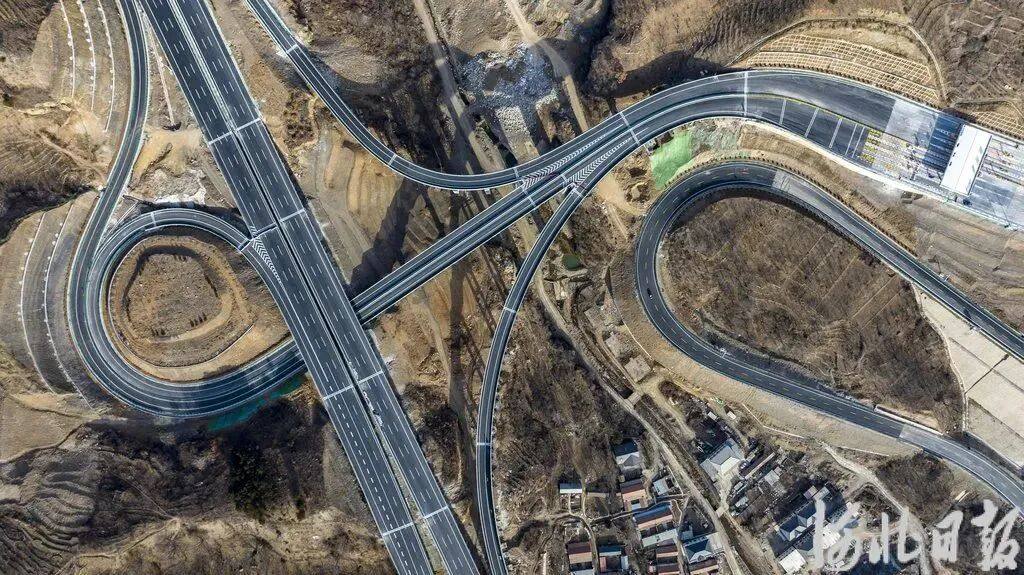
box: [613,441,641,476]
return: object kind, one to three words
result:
house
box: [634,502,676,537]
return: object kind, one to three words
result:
house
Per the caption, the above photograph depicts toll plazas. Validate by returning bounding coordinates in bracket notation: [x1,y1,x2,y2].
[856,93,1024,232]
